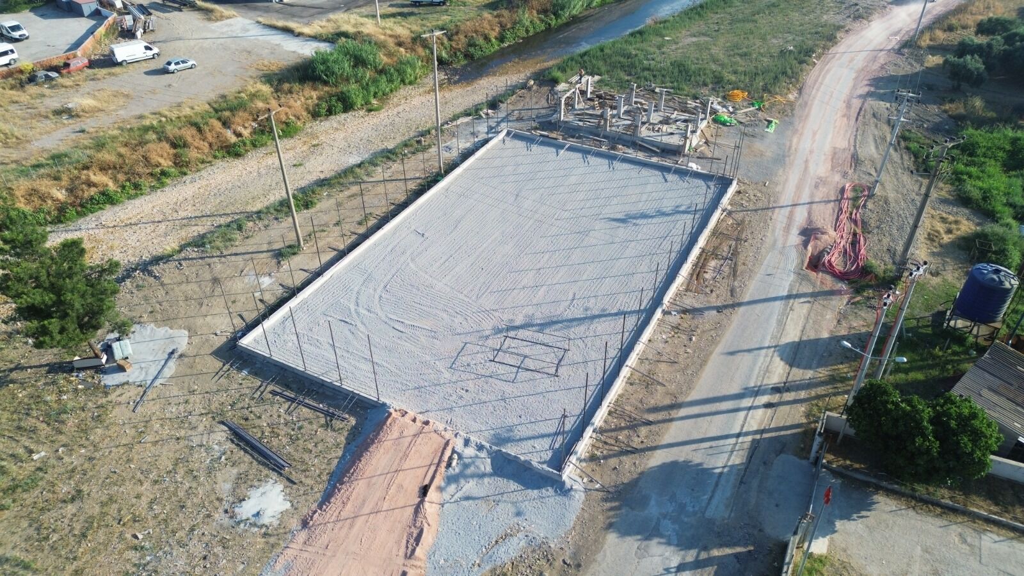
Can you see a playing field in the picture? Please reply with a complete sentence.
Yes, the photo shows a playing field.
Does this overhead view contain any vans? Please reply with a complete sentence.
Yes, there's a van here.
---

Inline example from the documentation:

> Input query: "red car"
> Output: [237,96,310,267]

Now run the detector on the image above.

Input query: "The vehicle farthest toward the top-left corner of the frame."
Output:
[0,12,34,40]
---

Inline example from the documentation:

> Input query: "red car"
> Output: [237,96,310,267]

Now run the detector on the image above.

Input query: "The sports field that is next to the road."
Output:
[244,133,733,470]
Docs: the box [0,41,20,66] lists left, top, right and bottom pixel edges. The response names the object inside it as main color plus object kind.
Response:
white vehicle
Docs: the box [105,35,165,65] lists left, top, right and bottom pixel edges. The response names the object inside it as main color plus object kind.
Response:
white van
